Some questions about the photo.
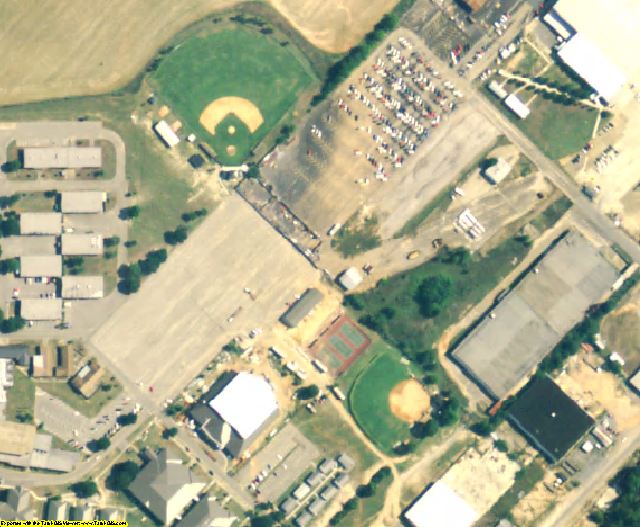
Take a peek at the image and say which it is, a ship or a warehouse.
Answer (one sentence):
Looking from above, you can make out a warehouse.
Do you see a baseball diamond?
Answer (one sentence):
Yes, the photo shows a baseball diamond.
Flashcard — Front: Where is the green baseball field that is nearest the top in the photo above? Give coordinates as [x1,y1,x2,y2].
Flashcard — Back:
[153,26,312,166]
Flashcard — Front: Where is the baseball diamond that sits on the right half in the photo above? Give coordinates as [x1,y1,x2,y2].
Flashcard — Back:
[351,345,431,456]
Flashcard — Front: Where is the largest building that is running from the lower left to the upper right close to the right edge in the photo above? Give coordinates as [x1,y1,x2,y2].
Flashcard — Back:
[452,231,621,399]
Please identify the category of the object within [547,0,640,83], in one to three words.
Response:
building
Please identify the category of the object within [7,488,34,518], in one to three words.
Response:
house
